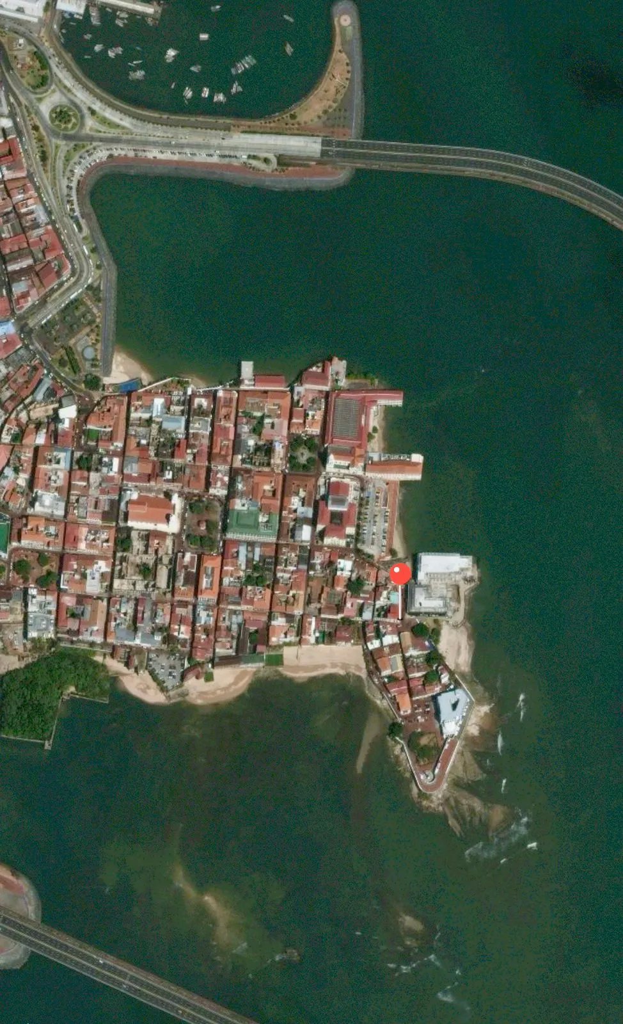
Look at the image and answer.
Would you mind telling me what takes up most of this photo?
water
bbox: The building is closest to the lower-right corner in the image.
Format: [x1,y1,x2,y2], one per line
[438,689,470,743]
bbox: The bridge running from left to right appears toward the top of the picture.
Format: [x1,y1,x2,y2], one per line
[320,140,623,229]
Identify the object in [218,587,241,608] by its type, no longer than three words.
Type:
house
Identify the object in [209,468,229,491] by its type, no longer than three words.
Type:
house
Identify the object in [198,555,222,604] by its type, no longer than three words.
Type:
building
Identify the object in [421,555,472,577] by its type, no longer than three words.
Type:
building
